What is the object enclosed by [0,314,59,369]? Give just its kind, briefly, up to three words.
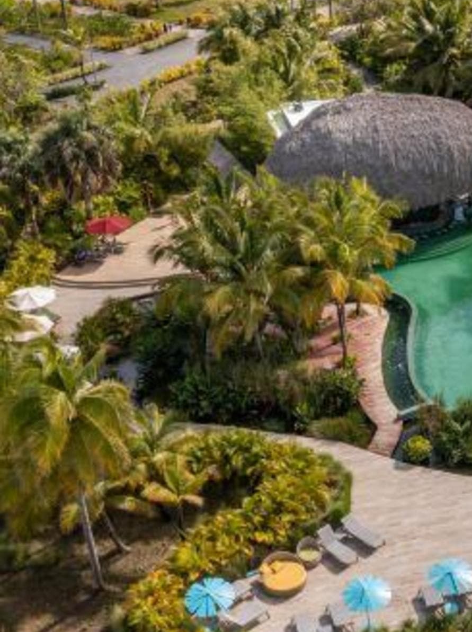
umbrella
